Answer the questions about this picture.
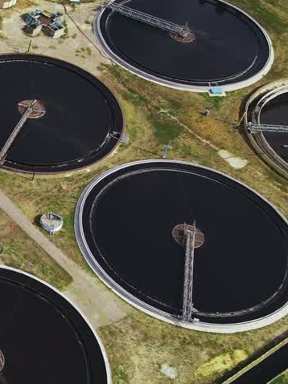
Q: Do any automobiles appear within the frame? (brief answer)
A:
No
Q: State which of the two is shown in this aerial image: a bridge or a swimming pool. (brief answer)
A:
bridge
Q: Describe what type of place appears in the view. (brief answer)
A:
industrial area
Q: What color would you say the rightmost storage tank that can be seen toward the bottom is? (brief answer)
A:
black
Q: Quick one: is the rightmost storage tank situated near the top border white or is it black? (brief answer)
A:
black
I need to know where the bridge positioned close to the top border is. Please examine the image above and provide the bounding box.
[102,0,193,39]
